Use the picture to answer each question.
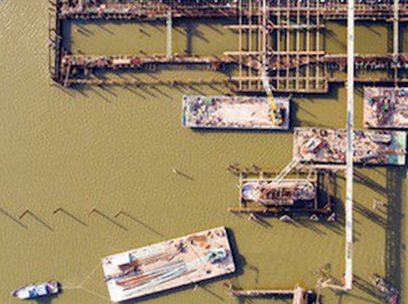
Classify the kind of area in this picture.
port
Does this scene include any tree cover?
No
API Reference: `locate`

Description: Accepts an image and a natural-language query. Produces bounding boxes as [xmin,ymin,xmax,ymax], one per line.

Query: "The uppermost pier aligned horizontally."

[229,165,337,218]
